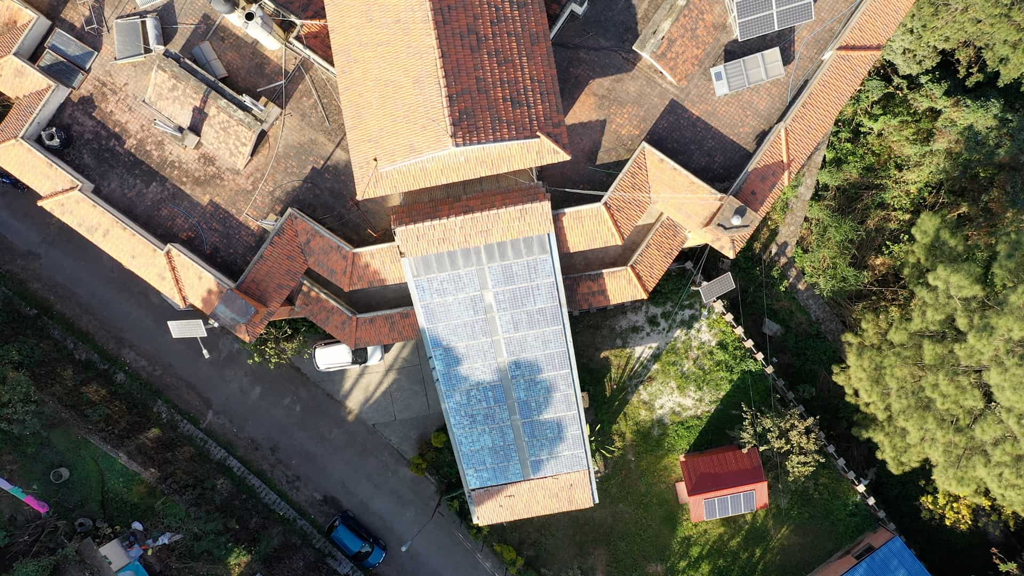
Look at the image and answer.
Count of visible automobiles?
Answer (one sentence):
There are 2 automobiles in the image.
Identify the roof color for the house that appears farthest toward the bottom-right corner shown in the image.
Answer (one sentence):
The color of the roof on the house that appears farthest toward the bottom-right corner is blue.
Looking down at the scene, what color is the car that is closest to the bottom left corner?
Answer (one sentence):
In this view, the car that is closest to the bottom left corner is blue.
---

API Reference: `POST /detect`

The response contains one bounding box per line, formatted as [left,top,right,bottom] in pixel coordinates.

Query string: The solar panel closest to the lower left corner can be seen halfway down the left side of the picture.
[167,320,207,338]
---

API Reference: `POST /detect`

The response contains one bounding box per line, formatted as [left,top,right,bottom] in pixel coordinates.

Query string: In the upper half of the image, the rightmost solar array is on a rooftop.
[726,0,815,54]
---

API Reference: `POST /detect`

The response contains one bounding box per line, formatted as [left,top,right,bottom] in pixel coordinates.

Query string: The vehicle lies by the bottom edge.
[326,510,389,572]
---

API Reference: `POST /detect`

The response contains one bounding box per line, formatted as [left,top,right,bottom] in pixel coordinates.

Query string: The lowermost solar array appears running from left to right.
[704,490,756,520]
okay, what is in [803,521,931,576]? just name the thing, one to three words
house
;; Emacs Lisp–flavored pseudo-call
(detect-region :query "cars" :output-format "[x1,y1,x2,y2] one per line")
[312,342,383,374]
[326,510,389,572]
